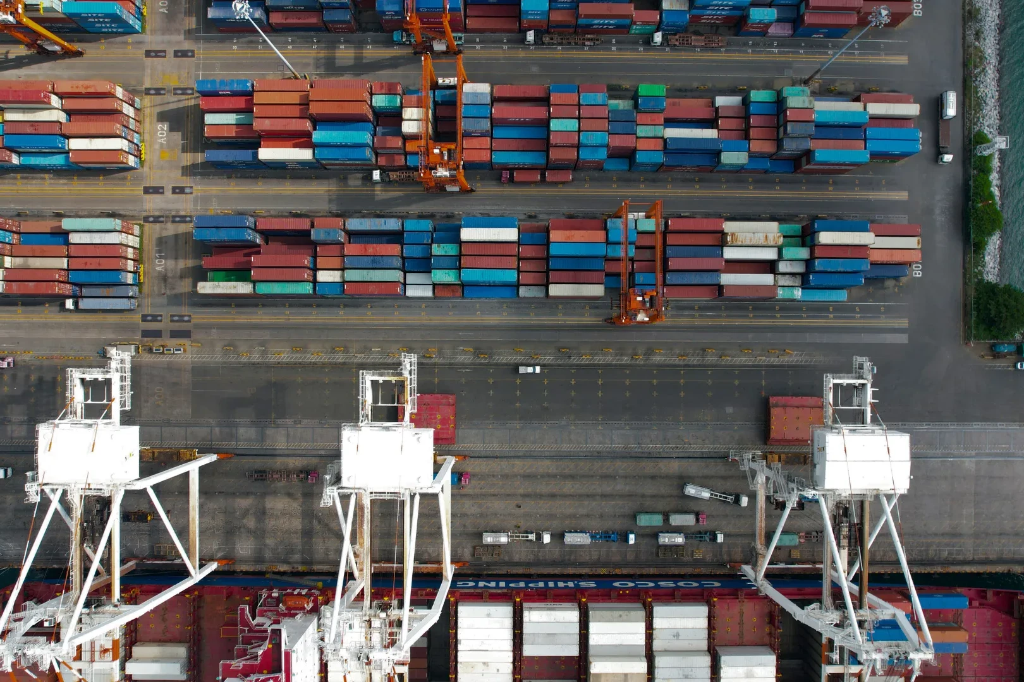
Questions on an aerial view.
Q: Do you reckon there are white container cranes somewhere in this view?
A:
Yes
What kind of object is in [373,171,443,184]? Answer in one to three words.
vehicle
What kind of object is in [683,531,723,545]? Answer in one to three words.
vehicle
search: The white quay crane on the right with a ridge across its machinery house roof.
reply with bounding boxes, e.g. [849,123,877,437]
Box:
[725,351,945,682]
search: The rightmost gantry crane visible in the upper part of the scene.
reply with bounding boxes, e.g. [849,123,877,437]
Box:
[597,199,668,330]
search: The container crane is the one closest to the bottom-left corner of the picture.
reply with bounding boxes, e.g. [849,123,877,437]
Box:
[0,346,233,682]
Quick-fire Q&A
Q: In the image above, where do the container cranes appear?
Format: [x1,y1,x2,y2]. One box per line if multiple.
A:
[725,351,945,682]
[0,346,233,682]
[312,348,472,682]
[406,0,471,54]
[418,50,483,192]
[597,199,668,330]
[0,0,93,52]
